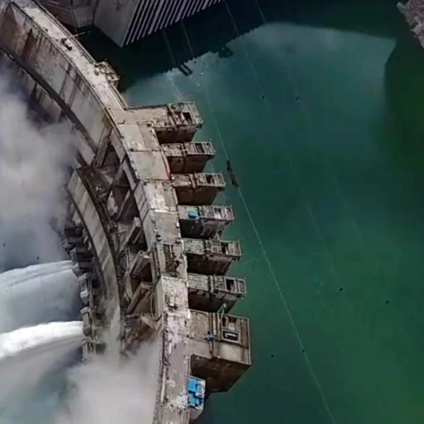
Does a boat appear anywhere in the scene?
No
